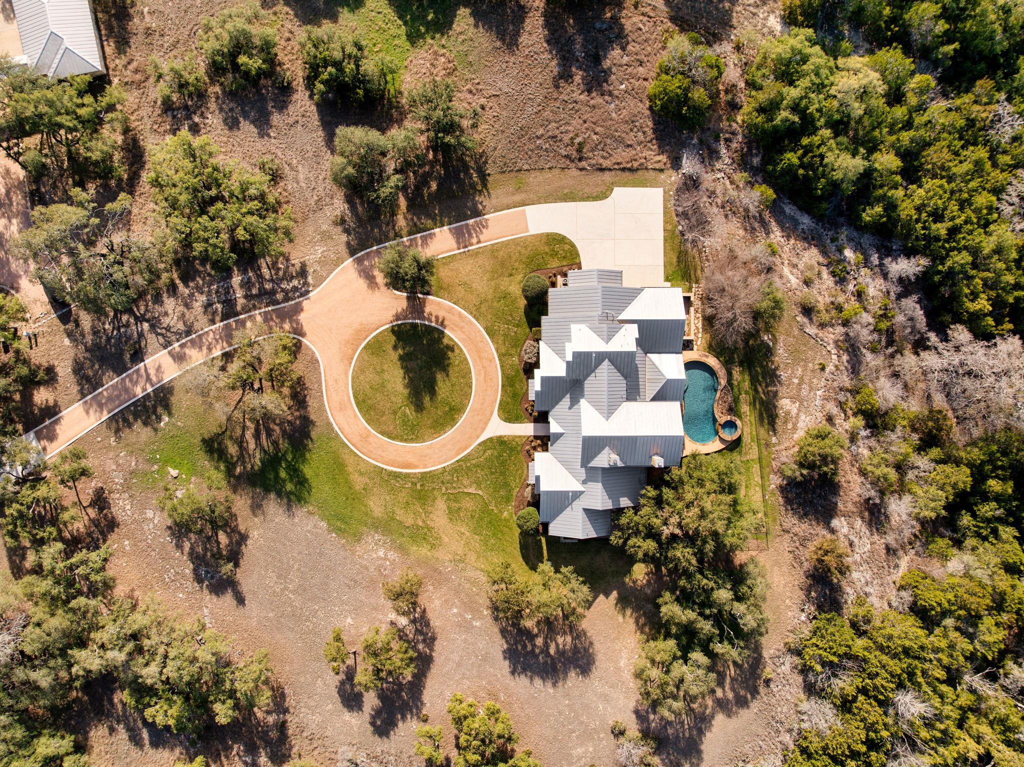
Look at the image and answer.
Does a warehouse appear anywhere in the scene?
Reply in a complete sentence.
No, I can see no warehouse in this picture.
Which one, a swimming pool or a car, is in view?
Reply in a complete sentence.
The one in the frame is a swimming pool.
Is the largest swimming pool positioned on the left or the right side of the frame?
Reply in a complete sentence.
The largest swimming pool is on the right side of the image.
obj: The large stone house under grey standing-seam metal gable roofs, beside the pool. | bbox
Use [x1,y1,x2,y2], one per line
[528,268,687,539]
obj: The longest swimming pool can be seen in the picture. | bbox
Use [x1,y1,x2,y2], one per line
[681,357,722,446]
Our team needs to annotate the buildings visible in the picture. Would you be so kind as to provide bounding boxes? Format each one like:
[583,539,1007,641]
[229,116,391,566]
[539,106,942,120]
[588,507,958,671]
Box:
[12,0,109,82]
[528,268,687,539]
